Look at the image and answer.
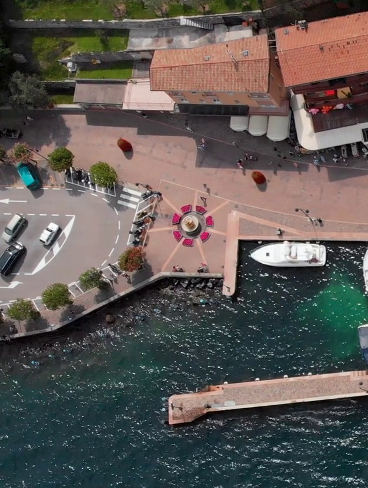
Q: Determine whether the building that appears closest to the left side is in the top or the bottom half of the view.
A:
top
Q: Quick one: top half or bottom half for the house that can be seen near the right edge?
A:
top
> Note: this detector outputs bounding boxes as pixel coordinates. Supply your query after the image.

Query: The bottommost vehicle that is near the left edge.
[0,240,29,275]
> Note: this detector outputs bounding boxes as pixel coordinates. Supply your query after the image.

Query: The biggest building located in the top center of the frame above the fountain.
[149,34,289,120]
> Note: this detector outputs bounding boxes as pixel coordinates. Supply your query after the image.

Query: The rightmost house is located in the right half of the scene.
[275,11,368,102]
